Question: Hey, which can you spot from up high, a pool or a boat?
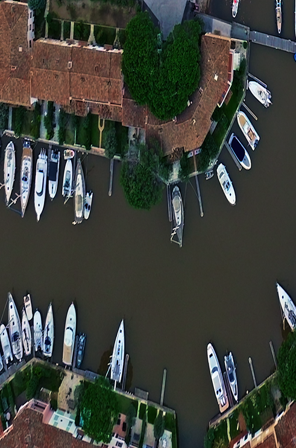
boat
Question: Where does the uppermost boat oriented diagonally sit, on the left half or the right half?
right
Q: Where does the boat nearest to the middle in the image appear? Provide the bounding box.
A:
[168,184,185,248]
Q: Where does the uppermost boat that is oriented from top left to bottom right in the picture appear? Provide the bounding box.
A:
[249,79,271,111]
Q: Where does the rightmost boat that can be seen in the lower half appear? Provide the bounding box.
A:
[277,283,296,330]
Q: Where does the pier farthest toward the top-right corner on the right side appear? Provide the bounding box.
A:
[249,28,296,53]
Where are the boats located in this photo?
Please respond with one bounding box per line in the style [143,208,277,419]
[216,158,234,206]
[62,161,72,201]
[25,291,32,320]
[105,320,127,382]
[249,79,271,111]
[0,140,17,206]
[277,283,296,330]
[59,158,85,224]
[225,347,237,403]
[1,324,14,368]
[33,149,50,223]
[237,112,260,154]
[208,343,228,412]
[85,188,93,219]
[275,0,282,34]
[0,141,33,218]
[33,303,55,356]
[49,147,61,201]
[168,184,185,248]
[233,0,238,18]
[77,330,86,367]
[34,310,43,354]
[64,147,75,164]
[0,292,24,361]
[10,309,32,355]
[62,302,77,369]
